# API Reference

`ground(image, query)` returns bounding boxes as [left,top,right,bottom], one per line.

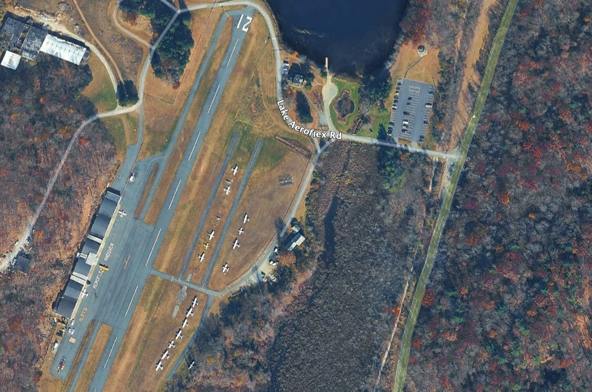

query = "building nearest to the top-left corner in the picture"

[0,17,25,50]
